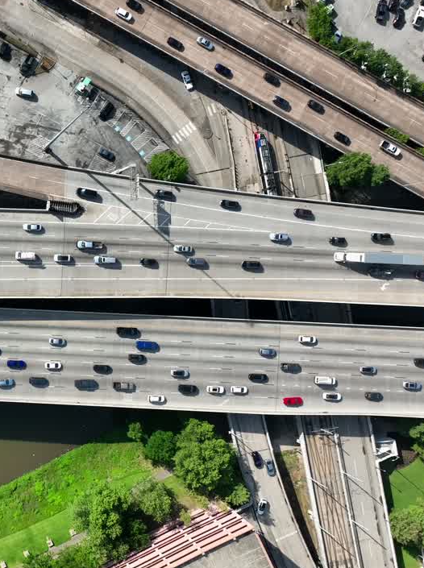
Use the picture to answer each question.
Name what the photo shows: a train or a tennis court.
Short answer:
train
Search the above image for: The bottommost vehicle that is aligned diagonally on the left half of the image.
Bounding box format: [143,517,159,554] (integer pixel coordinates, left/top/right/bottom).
[98,147,115,161]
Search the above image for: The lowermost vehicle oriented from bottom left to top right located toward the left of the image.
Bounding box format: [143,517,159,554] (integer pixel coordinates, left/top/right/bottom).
[101,102,114,119]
